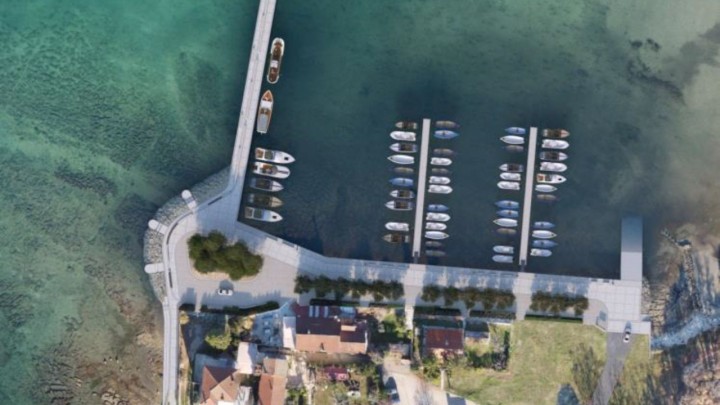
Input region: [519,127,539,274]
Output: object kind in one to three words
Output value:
pier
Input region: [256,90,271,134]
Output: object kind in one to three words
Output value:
boat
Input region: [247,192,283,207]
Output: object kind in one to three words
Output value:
boat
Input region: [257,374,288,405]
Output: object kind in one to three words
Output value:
house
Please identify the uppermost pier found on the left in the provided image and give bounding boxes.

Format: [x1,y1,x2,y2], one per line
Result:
[231,0,277,174]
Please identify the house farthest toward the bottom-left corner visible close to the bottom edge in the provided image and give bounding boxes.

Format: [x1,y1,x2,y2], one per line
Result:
[200,365,239,405]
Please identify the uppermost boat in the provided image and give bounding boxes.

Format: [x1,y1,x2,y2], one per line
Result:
[266,37,282,85]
